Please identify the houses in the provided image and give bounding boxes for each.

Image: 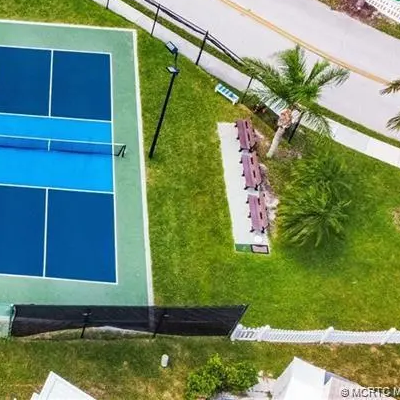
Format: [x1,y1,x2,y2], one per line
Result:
[31,369,101,400]
[273,357,344,400]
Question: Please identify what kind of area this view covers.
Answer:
sports ground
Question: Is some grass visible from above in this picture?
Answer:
Yes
